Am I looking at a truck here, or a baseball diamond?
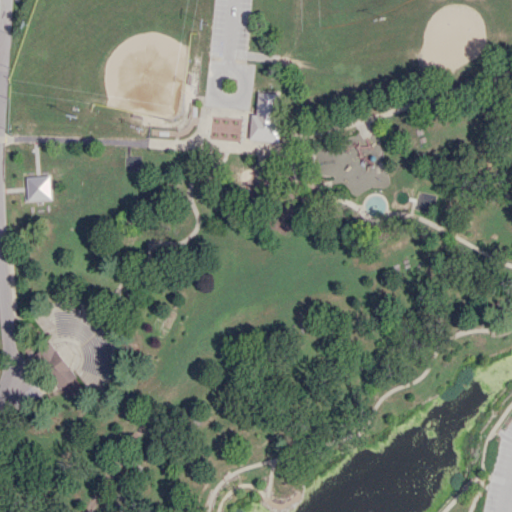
baseball diamond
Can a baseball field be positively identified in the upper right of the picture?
Yes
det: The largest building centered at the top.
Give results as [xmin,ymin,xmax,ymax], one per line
[247,92,278,142]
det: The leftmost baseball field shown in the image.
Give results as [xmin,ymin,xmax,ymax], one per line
[10,0,197,122]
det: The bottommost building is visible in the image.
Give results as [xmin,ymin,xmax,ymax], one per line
[38,345,76,392]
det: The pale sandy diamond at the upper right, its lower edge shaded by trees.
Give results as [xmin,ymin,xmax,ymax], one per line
[420,3,487,73]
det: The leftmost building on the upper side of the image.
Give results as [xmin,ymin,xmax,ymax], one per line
[25,174,54,203]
